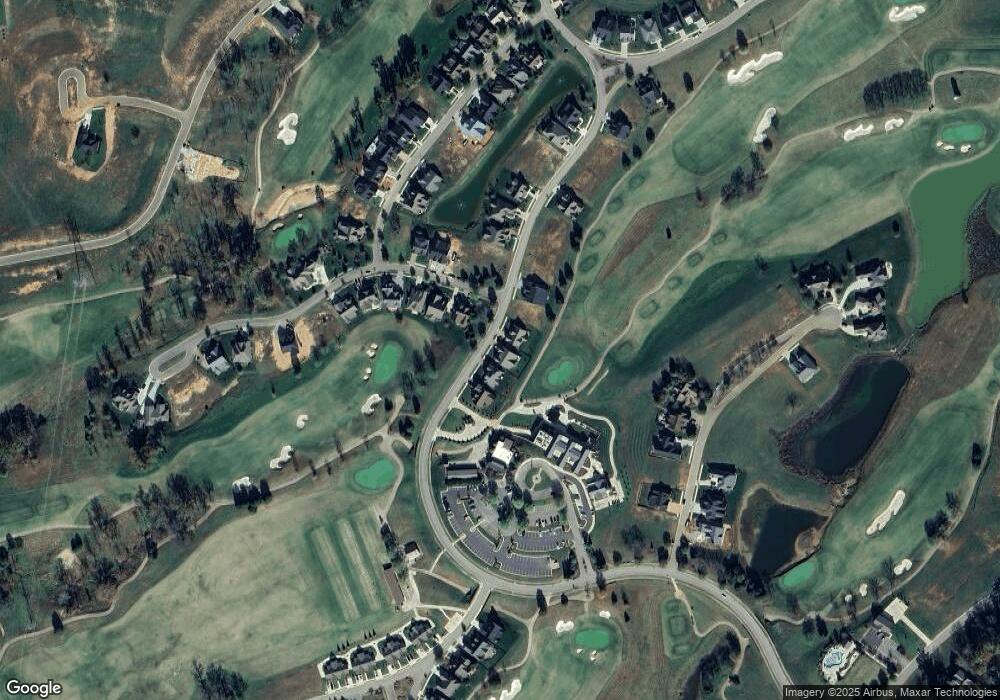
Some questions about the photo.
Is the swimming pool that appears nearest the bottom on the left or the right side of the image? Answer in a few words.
right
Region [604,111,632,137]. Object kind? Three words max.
house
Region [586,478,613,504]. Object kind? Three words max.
building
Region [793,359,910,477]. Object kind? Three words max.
pond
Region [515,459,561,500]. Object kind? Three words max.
roundabout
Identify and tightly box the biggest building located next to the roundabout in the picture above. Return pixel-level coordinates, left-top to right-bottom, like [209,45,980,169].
[529,410,600,470]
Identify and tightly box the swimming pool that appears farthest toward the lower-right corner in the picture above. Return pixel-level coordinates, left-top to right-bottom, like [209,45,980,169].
[822,643,860,682]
